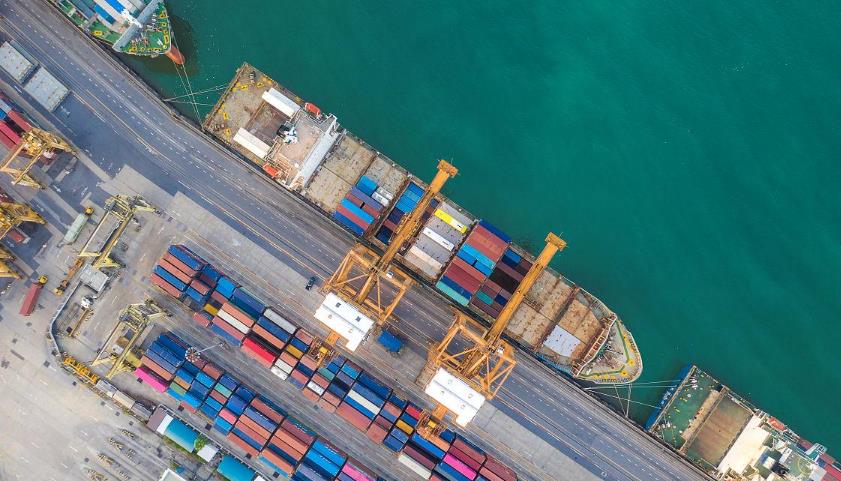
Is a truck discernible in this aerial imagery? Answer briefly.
Yes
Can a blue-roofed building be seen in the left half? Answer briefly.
Yes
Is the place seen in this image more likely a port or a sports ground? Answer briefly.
port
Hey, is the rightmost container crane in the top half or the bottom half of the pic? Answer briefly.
bottom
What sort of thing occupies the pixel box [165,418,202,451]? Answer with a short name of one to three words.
building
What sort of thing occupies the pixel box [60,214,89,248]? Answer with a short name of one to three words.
shipping container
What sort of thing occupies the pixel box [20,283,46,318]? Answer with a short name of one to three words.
shipping container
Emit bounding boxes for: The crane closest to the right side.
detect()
[412,230,574,443]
